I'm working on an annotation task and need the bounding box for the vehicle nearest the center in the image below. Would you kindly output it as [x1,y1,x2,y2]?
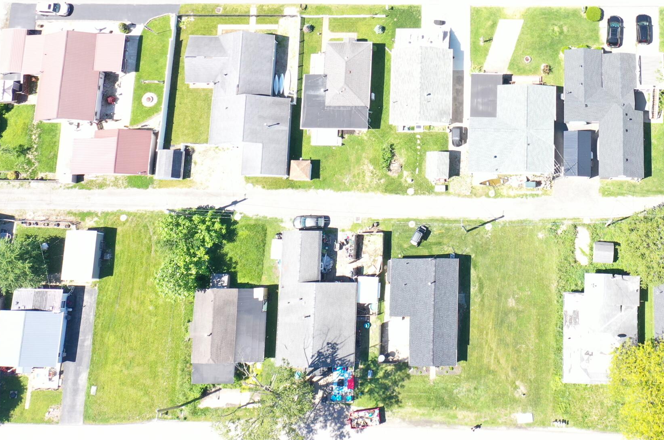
[291,214,329,231]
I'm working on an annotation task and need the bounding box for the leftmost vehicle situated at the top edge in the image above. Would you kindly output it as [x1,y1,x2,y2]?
[33,0,71,17]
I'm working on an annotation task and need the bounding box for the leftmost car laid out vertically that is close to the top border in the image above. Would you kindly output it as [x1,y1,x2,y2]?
[606,14,623,50]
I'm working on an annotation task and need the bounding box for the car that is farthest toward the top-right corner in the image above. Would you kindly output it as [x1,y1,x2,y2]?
[635,12,652,47]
